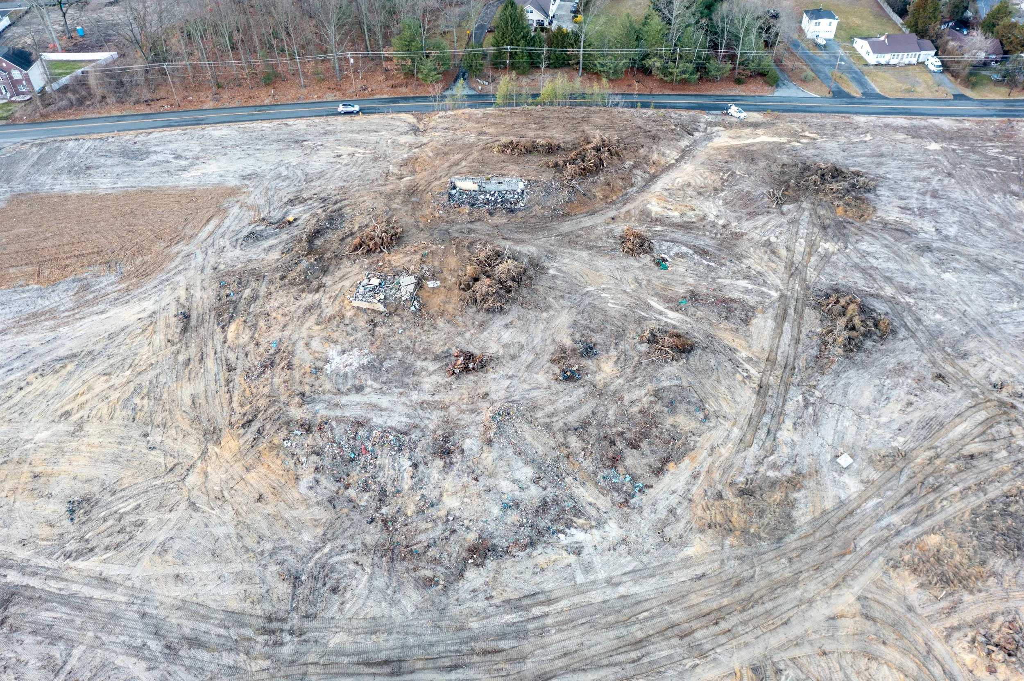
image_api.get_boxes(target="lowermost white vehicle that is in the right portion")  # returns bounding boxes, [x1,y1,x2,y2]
[726,103,751,118]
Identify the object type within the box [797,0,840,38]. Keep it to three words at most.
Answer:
house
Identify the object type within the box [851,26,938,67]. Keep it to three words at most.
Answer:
house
